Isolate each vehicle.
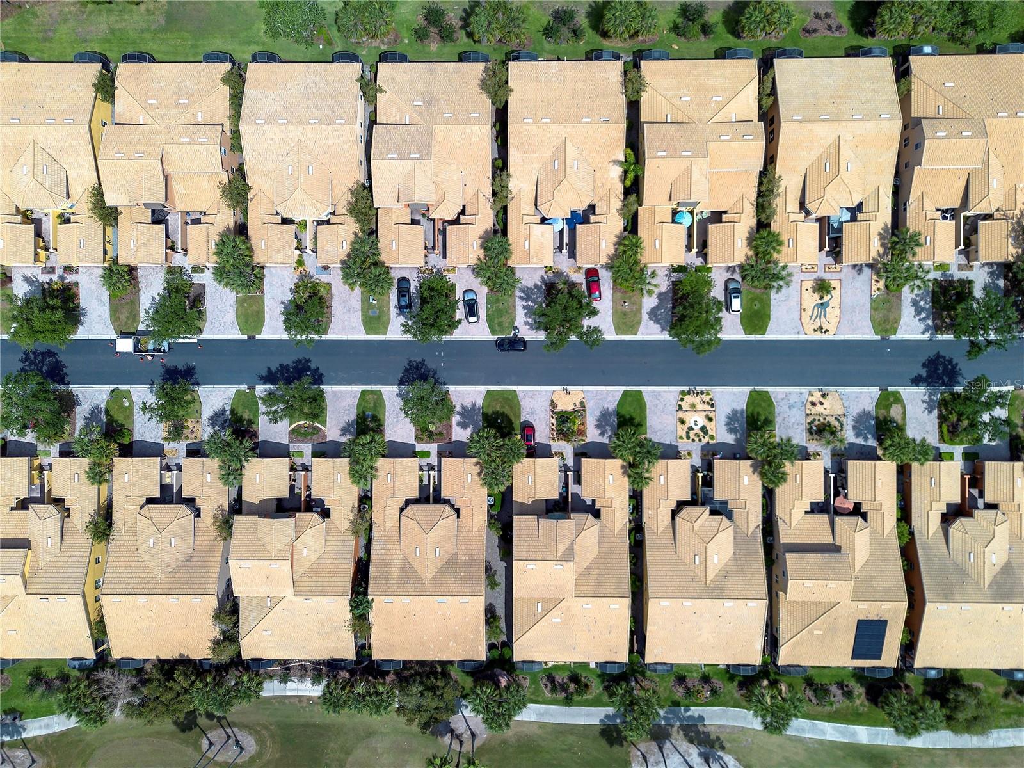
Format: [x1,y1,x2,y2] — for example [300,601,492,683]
[114,336,169,356]
[725,279,742,314]
[496,336,527,352]
[584,268,600,300]
[395,278,411,311]
[522,423,537,455]
[462,289,479,323]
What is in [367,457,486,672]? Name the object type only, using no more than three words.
house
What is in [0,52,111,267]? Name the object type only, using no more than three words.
house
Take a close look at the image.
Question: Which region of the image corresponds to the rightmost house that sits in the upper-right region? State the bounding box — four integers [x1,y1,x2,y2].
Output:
[900,45,1024,264]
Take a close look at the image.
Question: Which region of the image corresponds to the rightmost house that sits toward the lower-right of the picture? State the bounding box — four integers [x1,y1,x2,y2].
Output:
[904,462,1024,680]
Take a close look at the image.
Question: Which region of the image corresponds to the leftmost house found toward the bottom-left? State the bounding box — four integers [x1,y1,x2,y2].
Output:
[0,456,105,670]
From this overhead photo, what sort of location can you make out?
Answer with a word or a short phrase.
residential area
